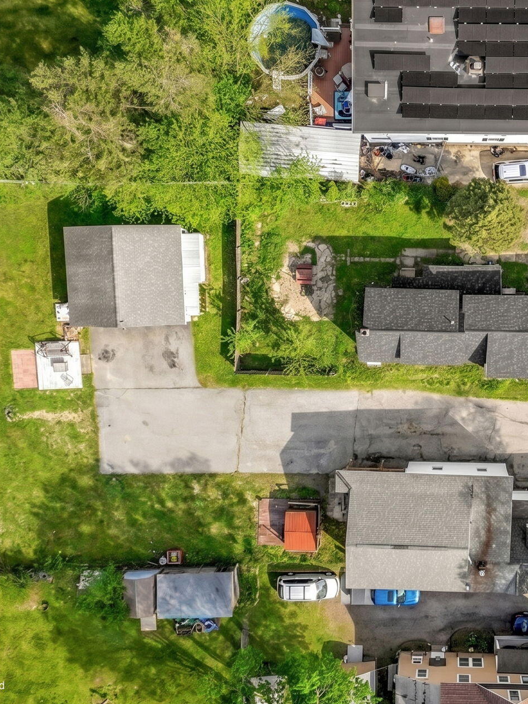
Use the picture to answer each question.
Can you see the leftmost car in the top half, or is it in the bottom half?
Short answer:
bottom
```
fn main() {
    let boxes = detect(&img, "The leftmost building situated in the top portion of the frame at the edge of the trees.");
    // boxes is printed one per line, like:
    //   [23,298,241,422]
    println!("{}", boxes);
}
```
[64,225,191,327]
